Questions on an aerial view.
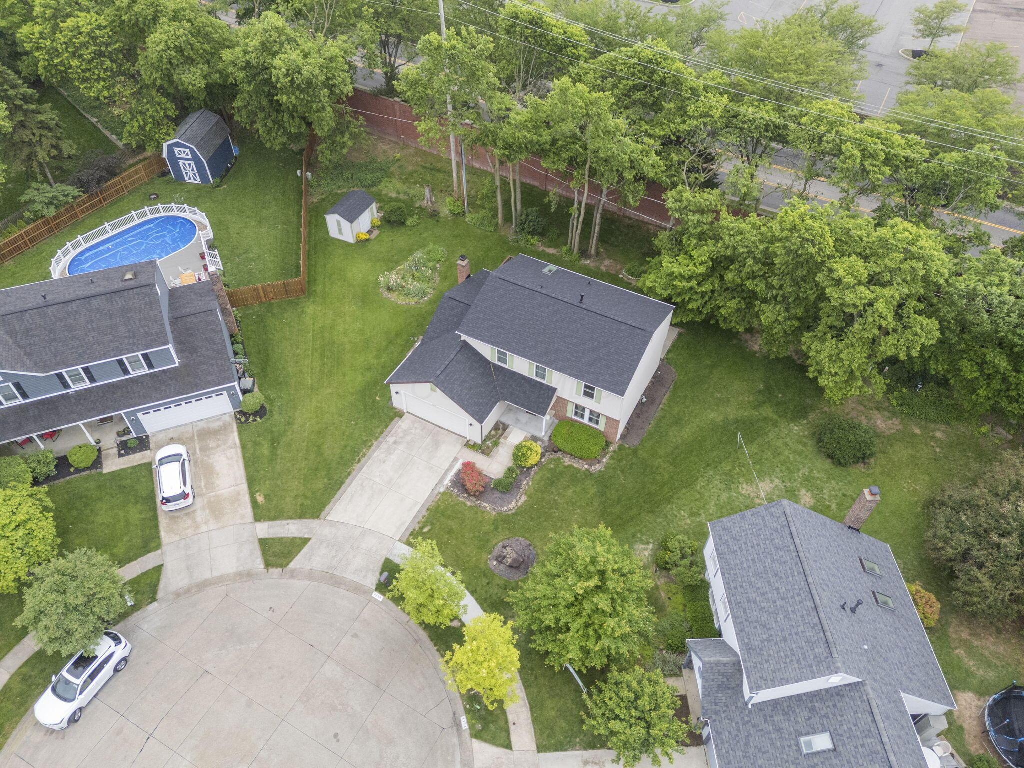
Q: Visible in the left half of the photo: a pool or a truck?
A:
pool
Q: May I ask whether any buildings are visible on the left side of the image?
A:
Yes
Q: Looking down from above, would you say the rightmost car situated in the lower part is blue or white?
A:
white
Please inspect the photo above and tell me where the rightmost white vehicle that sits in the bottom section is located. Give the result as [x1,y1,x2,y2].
[154,443,194,506]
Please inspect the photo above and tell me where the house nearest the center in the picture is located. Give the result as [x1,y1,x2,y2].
[383,252,680,446]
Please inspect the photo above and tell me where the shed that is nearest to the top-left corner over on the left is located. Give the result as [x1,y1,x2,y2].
[162,112,233,183]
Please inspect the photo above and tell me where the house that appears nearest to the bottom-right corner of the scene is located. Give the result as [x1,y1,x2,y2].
[682,488,973,768]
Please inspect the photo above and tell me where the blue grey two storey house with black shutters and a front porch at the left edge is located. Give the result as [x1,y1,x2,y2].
[0,256,242,479]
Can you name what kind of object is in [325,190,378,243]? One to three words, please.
shed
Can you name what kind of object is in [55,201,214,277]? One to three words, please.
swimming pool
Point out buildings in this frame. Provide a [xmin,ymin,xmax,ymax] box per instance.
[682,488,973,768]
[325,190,378,243]
[383,252,680,446]
[162,112,233,183]
[0,256,242,479]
